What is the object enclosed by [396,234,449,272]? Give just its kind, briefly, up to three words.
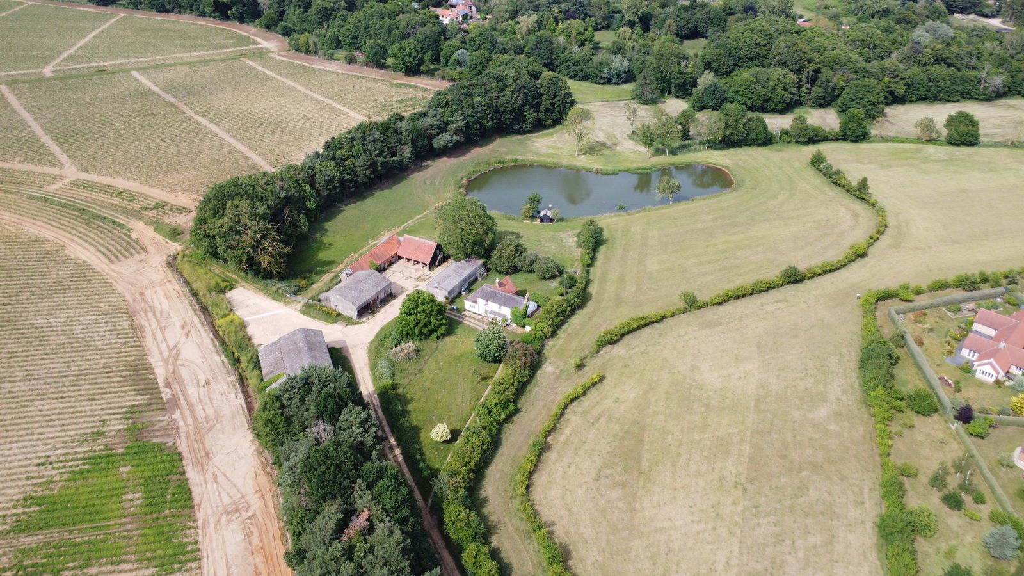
shed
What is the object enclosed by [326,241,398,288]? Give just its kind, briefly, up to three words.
shed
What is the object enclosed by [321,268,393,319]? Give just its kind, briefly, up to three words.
barn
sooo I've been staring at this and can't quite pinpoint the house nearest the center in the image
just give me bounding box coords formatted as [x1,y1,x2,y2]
[464,275,537,328]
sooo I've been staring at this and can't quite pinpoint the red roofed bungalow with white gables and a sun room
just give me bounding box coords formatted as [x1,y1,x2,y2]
[959,308,1024,385]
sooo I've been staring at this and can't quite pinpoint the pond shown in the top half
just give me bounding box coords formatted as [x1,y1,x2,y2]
[466,164,733,218]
